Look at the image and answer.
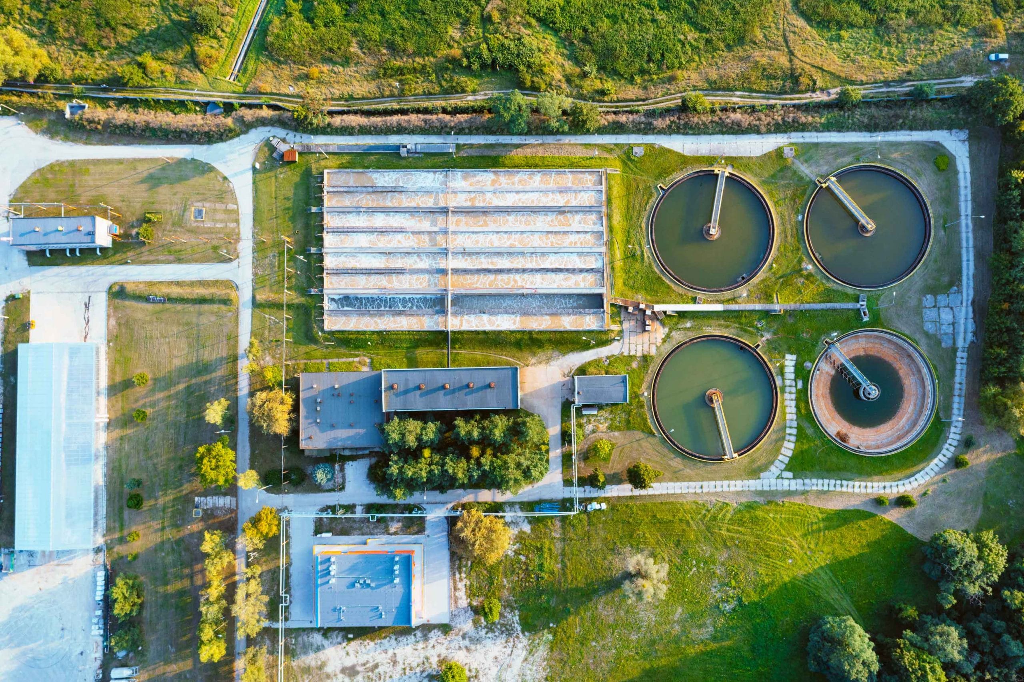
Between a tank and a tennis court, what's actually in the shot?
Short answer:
tank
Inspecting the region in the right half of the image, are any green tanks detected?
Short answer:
Yes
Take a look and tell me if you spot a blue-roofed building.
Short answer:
Yes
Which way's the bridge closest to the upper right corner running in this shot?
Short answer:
diagonally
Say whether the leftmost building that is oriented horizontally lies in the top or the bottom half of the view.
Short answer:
top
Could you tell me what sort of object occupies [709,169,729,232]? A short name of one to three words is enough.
bridge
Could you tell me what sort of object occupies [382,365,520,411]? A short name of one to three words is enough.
building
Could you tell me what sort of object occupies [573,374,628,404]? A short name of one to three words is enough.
building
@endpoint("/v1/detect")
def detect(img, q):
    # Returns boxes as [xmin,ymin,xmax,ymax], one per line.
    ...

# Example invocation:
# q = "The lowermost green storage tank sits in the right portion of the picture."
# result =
[651,334,779,462]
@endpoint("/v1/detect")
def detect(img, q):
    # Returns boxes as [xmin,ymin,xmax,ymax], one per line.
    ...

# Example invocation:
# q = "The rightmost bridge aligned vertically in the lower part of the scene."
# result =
[710,394,738,461]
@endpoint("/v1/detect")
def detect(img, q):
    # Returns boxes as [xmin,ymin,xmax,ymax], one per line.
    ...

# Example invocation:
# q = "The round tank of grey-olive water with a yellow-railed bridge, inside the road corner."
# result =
[804,163,932,290]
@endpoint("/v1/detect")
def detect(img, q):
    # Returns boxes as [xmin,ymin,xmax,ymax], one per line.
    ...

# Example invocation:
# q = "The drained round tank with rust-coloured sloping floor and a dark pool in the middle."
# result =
[808,328,937,456]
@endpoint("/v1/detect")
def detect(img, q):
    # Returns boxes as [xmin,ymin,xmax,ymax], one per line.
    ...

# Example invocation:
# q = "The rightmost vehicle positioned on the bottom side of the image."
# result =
[586,502,608,514]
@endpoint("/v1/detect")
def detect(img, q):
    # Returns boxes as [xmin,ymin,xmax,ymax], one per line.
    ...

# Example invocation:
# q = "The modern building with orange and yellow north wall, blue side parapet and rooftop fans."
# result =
[316,549,418,629]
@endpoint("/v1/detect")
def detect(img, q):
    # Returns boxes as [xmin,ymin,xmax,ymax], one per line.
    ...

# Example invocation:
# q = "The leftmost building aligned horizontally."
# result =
[0,216,113,257]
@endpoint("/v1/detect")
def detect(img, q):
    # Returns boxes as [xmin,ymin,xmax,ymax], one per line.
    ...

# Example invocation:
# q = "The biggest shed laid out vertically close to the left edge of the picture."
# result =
[16,343,118,551]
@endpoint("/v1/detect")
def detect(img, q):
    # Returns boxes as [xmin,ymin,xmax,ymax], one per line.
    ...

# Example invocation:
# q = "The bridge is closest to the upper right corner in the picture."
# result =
[821,174,873,232]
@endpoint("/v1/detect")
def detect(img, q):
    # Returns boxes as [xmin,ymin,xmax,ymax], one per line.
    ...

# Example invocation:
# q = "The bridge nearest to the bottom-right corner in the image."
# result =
[827,340,875,395]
